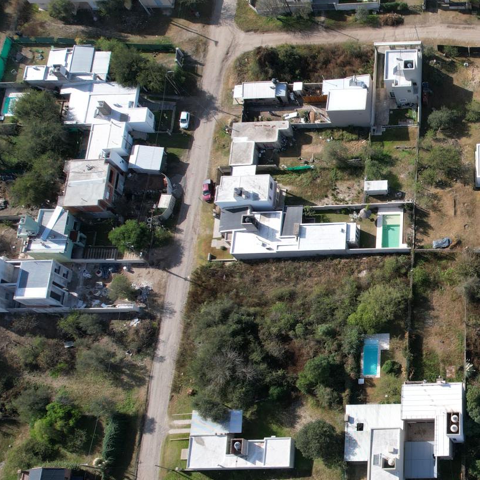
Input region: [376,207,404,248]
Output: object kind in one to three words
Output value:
swimming pool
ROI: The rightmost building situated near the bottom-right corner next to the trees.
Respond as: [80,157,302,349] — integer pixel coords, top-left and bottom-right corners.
[344,382,466,480]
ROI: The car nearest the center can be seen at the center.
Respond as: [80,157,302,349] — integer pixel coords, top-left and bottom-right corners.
[201,181,215,202]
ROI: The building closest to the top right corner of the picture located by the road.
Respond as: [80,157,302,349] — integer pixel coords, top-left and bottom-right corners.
[385,50,420,104]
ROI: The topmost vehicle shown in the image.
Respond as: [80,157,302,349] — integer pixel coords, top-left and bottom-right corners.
[178,111,191,131]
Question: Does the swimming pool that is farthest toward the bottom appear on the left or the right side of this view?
right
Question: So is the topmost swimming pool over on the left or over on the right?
left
